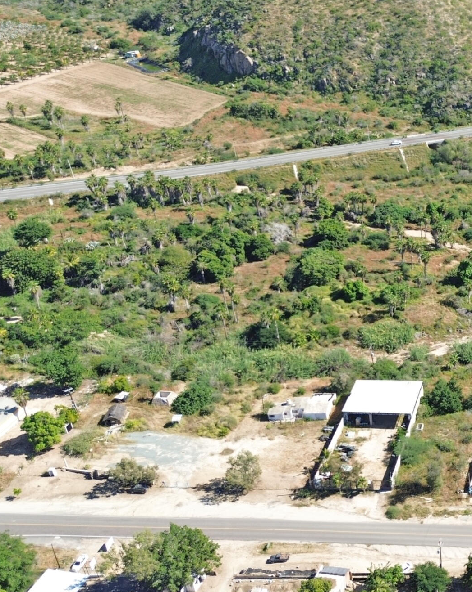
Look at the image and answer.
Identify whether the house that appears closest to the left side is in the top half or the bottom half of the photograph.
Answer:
bottom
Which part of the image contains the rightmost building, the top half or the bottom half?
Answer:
bottom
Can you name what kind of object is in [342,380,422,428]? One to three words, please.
building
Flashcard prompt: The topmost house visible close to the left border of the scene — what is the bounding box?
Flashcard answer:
[0,398,21,437]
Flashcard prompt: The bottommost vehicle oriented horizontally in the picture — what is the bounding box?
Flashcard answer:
[265,553,290,565]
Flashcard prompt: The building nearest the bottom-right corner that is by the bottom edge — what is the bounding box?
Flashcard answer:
[318,566,350,592]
